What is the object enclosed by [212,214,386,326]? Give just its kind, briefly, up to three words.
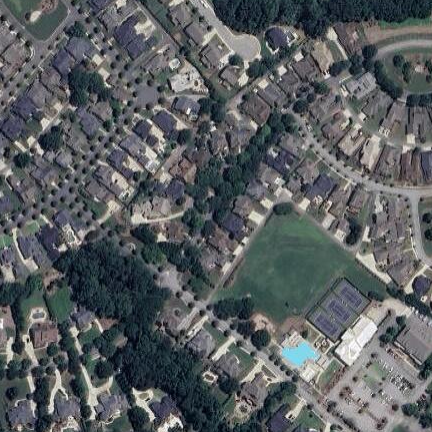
sports field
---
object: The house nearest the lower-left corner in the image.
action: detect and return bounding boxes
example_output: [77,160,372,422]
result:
[8,396,38,428]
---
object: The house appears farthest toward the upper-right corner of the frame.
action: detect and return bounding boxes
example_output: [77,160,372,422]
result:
[335,20,365,56]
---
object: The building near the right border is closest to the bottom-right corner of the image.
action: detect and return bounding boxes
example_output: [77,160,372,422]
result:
[393,323,432,367]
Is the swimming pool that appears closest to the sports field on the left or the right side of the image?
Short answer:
right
